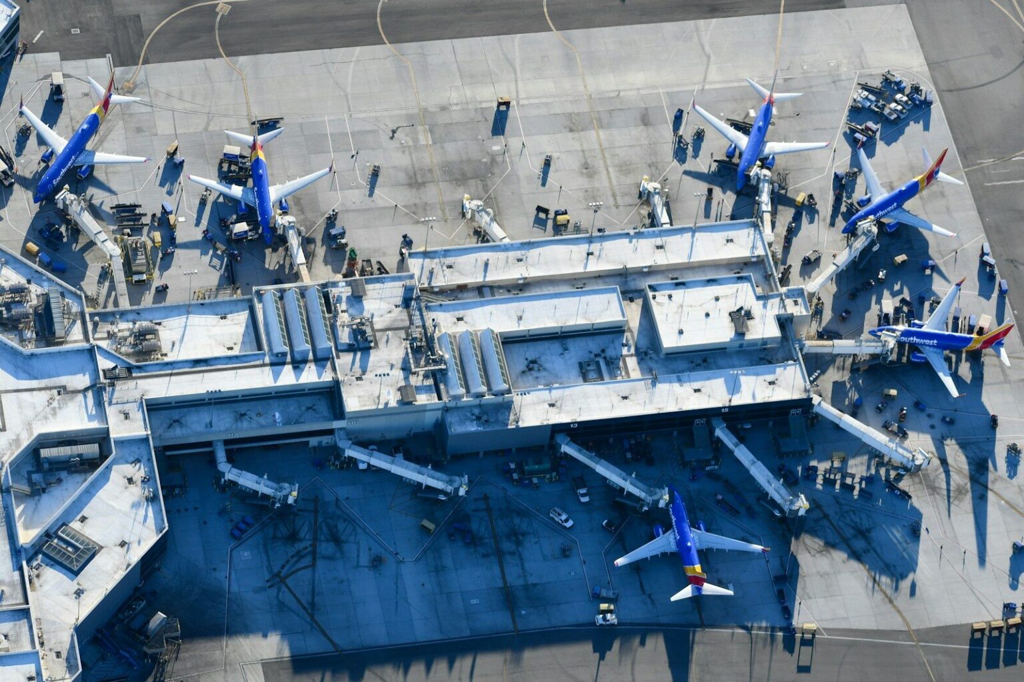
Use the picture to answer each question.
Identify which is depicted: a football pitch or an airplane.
airplane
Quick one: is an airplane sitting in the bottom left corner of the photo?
No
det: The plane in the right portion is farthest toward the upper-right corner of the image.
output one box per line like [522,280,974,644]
[842,138,962,237]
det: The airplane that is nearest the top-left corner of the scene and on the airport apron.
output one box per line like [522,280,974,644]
[19,70,152,203]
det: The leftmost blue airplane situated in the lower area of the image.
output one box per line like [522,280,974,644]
[614,486,770,604]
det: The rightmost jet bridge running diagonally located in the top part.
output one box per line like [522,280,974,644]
[804,218,875,309]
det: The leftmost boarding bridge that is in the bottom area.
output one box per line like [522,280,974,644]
[214,436,301,512]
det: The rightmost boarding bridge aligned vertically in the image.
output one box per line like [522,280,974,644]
[740,169,776,257]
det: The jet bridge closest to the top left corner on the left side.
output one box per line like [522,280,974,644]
[52,188,128,309]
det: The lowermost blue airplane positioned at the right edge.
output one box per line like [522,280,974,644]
[870,276,1020,397]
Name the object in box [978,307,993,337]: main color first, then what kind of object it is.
white vehicle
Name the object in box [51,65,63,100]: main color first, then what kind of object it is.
white vehicle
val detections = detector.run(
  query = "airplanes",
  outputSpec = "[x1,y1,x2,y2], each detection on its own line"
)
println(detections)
[614,486,770,604]
[842,138,962,237]
[870,276,1020,397]
[19,70,152,203]
[693,70,833,190]
[185,113,334,245]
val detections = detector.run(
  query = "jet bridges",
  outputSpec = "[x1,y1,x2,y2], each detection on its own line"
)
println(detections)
[554,436,672,509]
[804,218,875,309]
[740,169,776,257]
[271,205,310,285]
[214,436,301,512]
[337,425,472,498]
[807,391,937,474]
[457,193,519,243]
[795,334,896,375]
[52,188,128,309]
[713,420,815,517]
[632,174,675,229]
